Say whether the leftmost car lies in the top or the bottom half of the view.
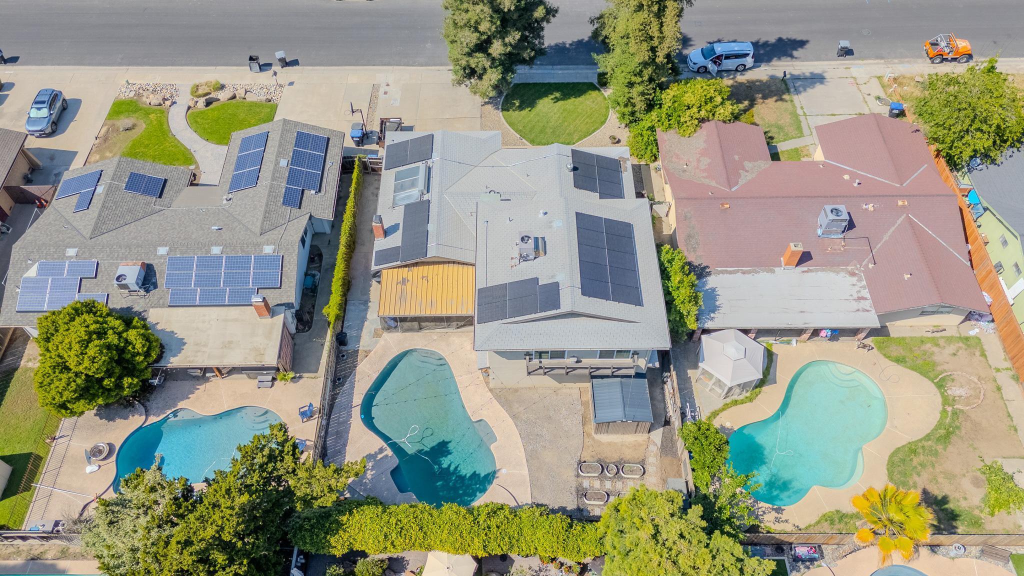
top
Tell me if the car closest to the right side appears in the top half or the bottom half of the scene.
top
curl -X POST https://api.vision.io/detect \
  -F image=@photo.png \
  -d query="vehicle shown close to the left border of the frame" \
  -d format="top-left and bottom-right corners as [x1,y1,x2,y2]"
[20,87,67,138]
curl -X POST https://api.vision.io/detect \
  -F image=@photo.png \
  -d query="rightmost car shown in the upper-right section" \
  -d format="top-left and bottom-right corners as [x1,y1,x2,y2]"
[922,35,972,64]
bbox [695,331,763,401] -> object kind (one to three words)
gazebo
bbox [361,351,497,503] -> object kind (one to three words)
swimming pool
